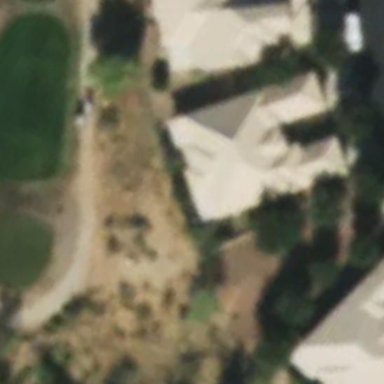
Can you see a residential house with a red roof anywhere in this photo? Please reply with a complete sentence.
No, no residential house with a red roof can be seen from above.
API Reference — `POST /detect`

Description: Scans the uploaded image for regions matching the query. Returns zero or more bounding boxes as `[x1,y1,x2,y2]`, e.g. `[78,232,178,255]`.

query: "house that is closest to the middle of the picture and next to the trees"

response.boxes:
[167,74,349,224]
